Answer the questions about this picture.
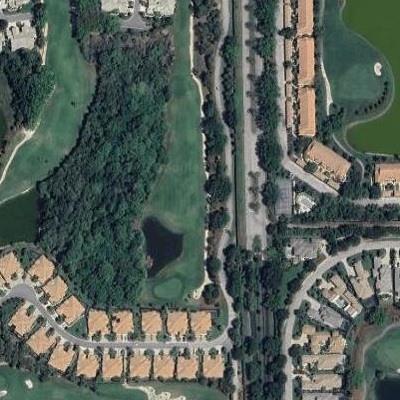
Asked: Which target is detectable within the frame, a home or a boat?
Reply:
home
